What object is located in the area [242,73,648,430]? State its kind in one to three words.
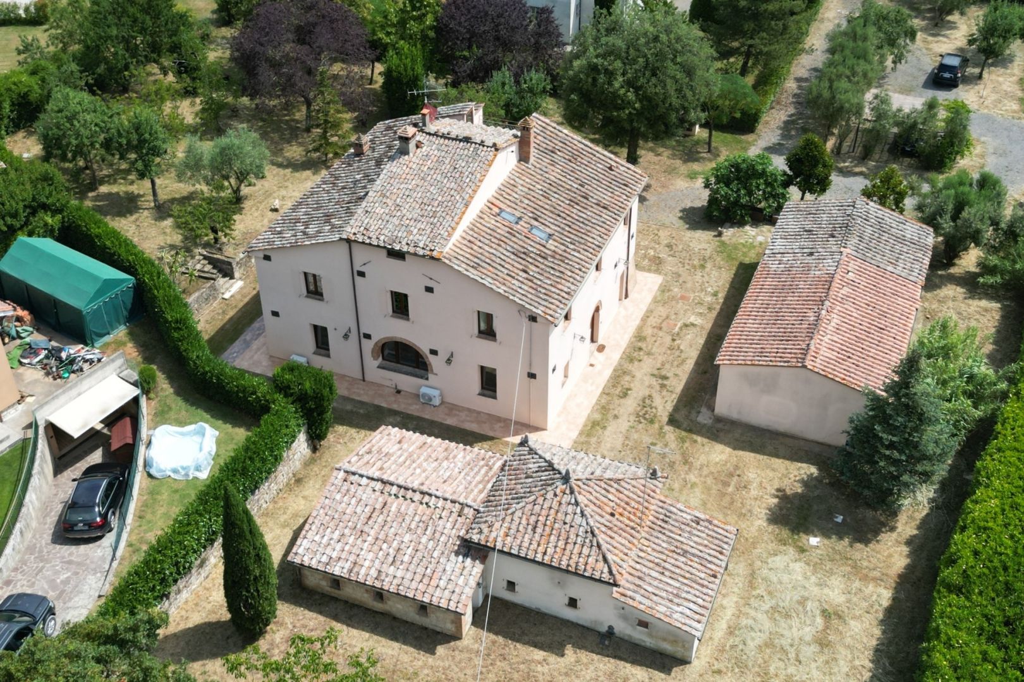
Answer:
house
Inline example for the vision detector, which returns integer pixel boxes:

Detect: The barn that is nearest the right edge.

[695,193,936,447]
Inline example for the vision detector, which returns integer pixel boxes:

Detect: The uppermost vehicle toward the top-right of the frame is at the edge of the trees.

[930,52,964,91]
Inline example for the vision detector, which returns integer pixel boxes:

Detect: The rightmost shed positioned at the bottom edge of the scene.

[467,434,743,661]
